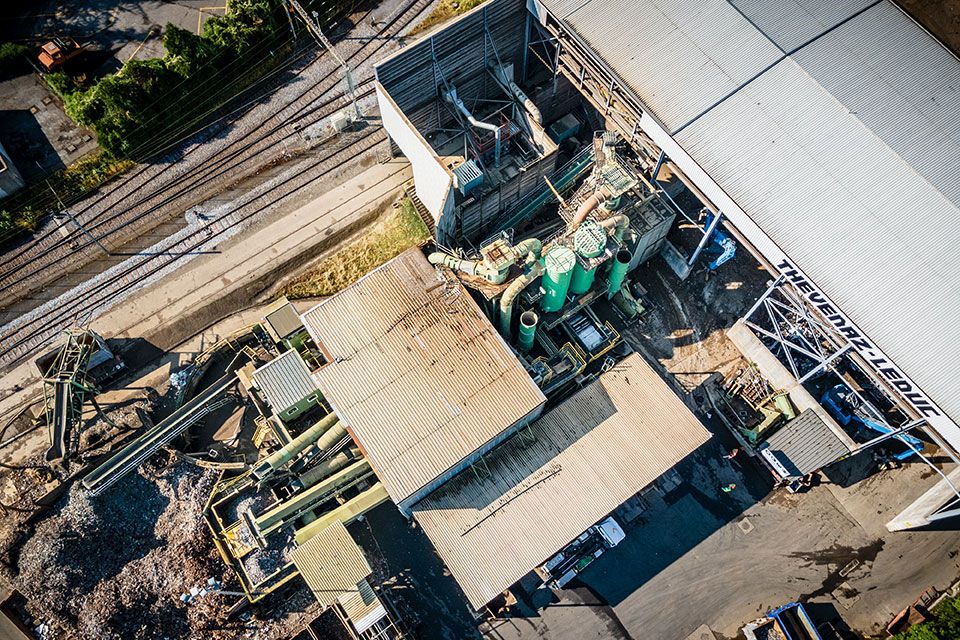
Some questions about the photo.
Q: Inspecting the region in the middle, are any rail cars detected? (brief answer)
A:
No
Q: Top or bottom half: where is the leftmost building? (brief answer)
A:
top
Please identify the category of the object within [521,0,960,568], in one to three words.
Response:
building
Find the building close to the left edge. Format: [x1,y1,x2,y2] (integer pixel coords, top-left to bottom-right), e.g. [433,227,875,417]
[0,125,44,231]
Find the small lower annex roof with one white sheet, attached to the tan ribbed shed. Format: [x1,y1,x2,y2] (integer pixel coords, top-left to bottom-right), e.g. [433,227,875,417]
[337,577,392,634]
